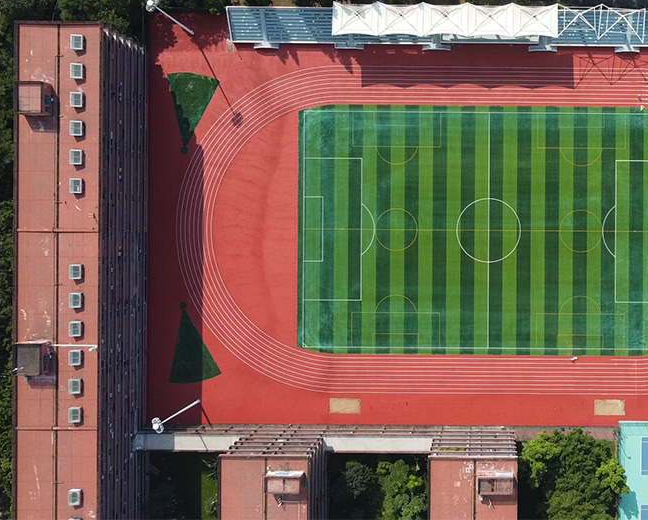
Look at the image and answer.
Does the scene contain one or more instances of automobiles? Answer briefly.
No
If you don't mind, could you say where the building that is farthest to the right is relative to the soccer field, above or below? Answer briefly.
below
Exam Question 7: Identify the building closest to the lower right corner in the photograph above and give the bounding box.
[430,435,518,520]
